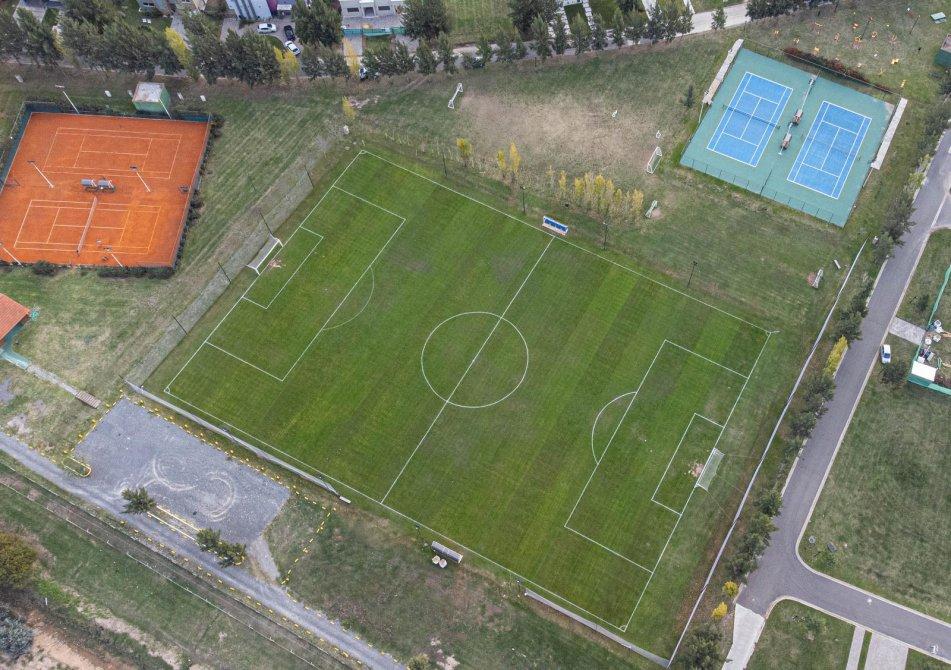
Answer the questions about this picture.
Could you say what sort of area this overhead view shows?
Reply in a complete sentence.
This looks like a sports ground.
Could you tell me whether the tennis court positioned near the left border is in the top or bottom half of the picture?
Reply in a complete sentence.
It is in the top half that the tennis court positioned near the left border appears.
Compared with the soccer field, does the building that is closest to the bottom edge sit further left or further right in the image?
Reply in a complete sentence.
The soccer field has the building that is closest to the bottom edge on its right side.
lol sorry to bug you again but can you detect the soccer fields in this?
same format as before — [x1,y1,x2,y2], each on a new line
[124,125,805,670]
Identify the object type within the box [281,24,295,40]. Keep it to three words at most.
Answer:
vehicle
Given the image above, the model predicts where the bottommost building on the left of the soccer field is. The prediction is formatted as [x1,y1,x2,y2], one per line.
[0,292,30,343]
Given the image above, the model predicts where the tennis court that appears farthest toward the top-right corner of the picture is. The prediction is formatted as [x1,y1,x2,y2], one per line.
[681,48,893,227]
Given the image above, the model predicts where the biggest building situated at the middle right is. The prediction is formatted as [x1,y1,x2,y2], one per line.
[905,361,939,382]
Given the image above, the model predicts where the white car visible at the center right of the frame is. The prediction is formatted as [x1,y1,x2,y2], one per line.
[881,343,894,362]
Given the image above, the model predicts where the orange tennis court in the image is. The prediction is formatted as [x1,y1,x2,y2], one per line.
[0,112,206,268]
